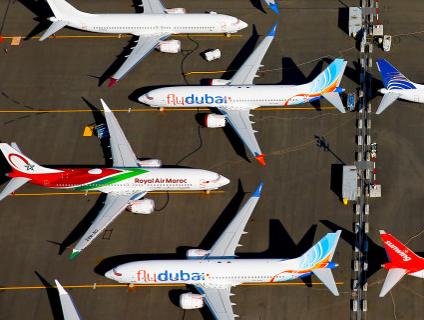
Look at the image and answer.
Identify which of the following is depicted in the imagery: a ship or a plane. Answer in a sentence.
The one in the frame is a plane.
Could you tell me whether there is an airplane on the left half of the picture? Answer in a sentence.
Yes, an airplane appears on the left half of the picture.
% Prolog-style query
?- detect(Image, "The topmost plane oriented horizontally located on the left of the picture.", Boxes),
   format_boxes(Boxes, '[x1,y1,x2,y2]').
[40,0,247,86]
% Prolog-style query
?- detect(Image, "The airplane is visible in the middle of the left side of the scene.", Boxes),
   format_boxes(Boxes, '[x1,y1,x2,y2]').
[0,99,228,258]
